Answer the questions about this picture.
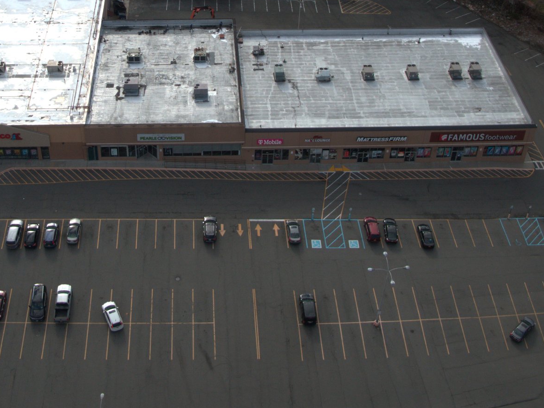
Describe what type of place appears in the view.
parking lot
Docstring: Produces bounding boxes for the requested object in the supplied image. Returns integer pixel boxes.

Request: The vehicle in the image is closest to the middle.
[286,218,304,248]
